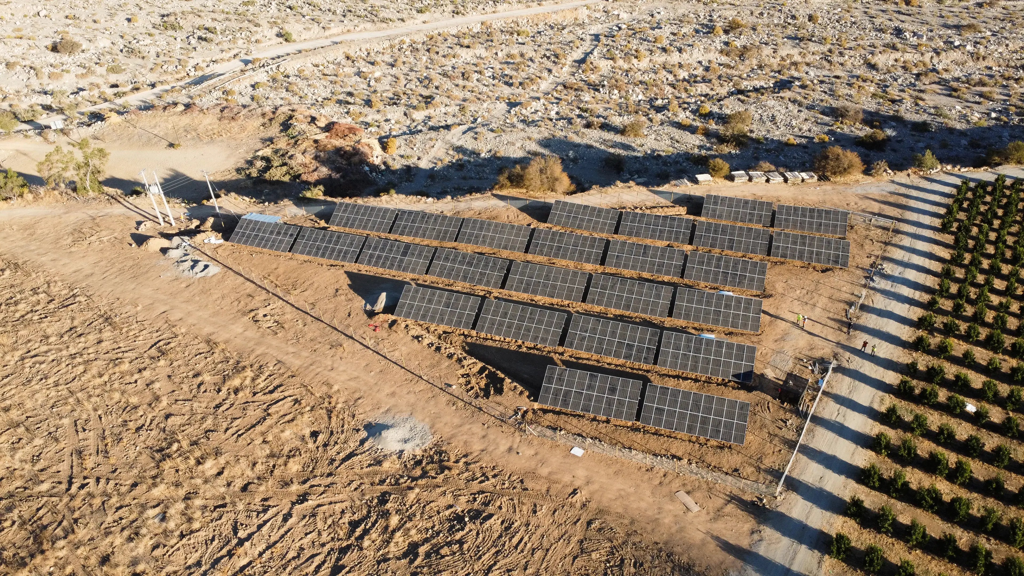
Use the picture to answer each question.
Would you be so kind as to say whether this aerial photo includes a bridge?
No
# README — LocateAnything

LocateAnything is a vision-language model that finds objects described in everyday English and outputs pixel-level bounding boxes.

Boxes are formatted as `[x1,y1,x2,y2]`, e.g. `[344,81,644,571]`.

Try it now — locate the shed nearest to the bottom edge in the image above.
[774,376,812,415]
